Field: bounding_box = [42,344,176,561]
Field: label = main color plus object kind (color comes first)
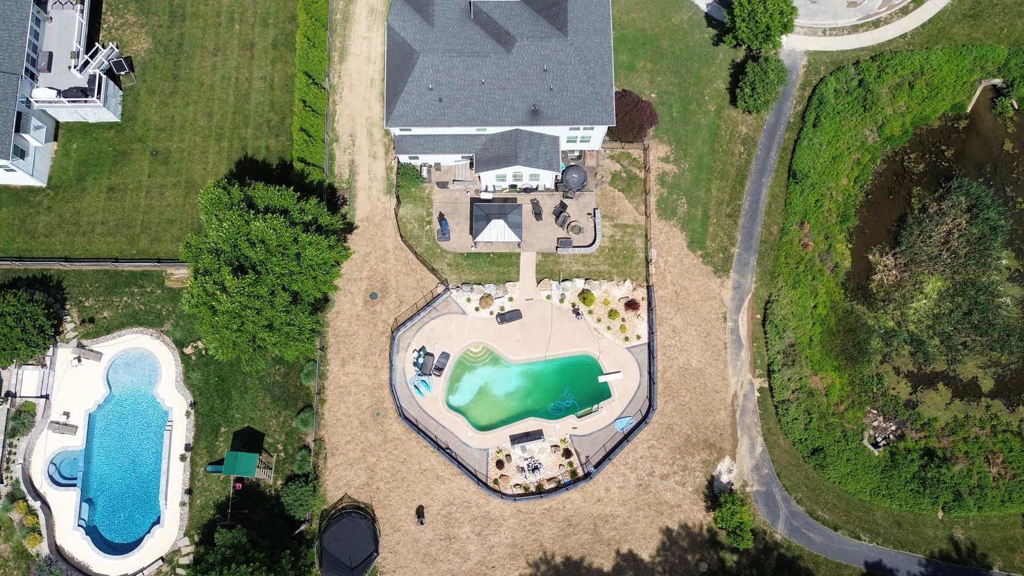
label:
blue swimming pool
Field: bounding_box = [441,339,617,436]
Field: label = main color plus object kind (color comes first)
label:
green swimming pool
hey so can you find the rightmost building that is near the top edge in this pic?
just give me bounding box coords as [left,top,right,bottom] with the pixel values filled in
[383,0,617,192]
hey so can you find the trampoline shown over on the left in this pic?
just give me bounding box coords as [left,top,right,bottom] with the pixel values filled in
[312,510,384,576]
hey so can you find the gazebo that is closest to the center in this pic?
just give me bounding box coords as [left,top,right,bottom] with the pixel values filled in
[473,202,523,250]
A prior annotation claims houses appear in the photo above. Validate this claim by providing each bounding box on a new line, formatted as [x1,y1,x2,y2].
[0,0,67,182]
[383,0,617,192]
